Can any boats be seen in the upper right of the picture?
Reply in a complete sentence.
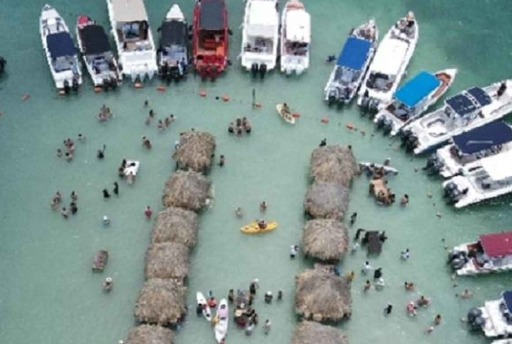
Yes, the scene does show a boat in the upper right of the picture.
